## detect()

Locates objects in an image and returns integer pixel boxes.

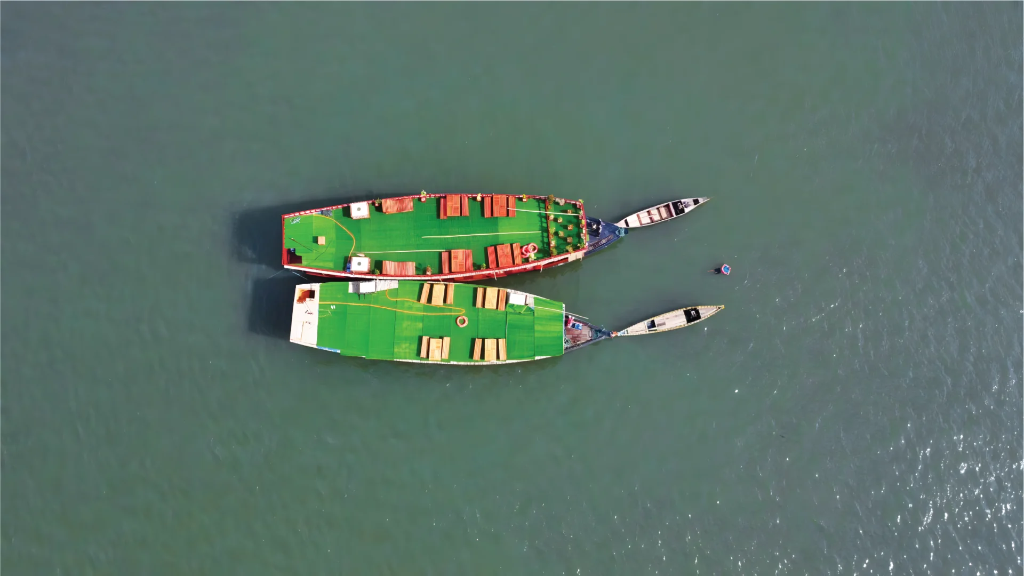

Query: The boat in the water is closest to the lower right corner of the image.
[619,305,725,335]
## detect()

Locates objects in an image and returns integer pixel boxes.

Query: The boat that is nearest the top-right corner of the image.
[616,196,712,228]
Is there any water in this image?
Yes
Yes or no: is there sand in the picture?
No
